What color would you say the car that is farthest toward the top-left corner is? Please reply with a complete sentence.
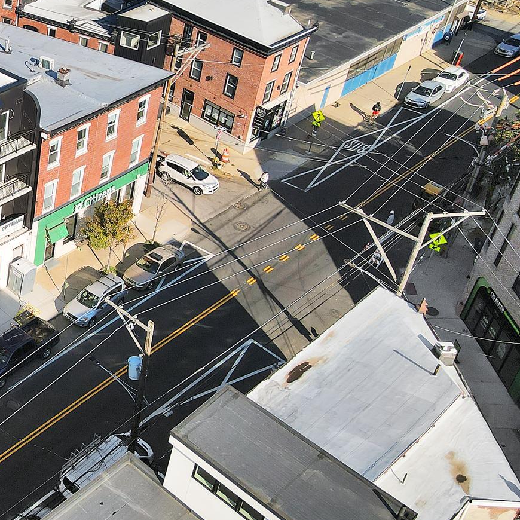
The car that is farthest toward the top-left corner looks white in the image.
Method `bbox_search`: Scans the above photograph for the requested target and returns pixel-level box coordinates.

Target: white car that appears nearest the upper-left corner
[158,155,221,195]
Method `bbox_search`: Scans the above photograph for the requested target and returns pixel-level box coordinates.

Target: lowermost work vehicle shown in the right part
[414,169,454,212]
